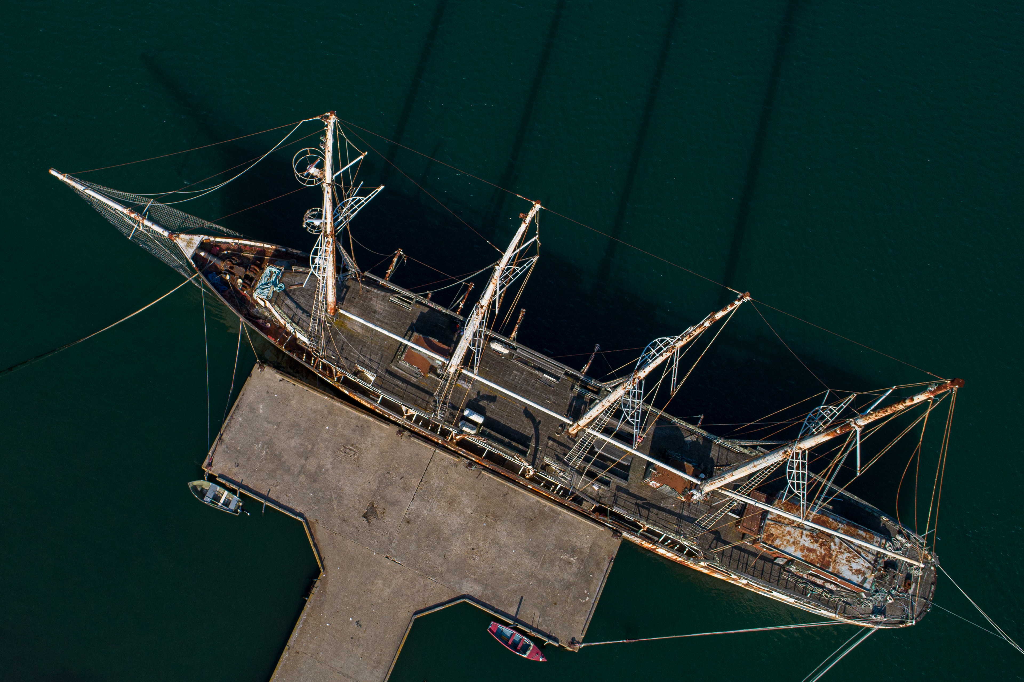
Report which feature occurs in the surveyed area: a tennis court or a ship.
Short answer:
ship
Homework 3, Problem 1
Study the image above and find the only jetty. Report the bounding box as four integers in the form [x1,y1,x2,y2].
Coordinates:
[202,366,621,682]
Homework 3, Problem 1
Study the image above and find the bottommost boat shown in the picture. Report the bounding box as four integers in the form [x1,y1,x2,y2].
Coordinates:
[487,622,547,662]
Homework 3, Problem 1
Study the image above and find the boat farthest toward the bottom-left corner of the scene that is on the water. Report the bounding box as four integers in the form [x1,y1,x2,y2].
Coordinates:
[188,481,256,517]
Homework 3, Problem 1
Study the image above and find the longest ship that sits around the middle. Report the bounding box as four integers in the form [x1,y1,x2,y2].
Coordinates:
[52,108,966,633]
